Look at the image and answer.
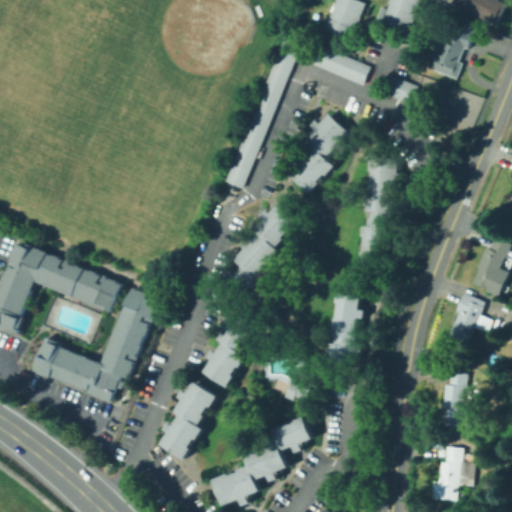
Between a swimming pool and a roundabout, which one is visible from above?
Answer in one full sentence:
There is a swimming pool in the scene.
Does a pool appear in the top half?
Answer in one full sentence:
No, in the top half there is no pool.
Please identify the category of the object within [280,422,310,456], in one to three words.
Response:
building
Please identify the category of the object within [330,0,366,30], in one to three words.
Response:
house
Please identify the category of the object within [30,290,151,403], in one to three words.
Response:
building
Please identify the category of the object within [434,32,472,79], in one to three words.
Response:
house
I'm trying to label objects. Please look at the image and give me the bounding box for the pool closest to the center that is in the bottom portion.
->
[265,359,294,386]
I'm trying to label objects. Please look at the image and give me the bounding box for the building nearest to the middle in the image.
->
[235,206,281,274]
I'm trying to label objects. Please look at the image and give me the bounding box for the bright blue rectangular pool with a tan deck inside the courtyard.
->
[46,298,102,343]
